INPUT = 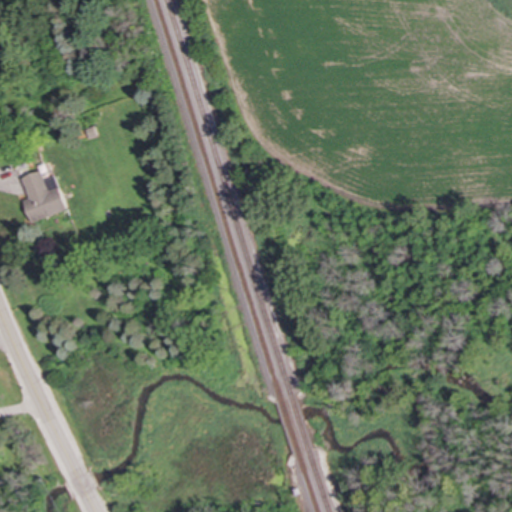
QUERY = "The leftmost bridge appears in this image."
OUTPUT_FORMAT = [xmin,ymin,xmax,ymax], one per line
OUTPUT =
[60,462,98,507]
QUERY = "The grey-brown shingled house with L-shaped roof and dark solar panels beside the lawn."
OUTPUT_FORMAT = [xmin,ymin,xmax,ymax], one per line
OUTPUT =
[20,172,66,223]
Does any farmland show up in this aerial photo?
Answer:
Yes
